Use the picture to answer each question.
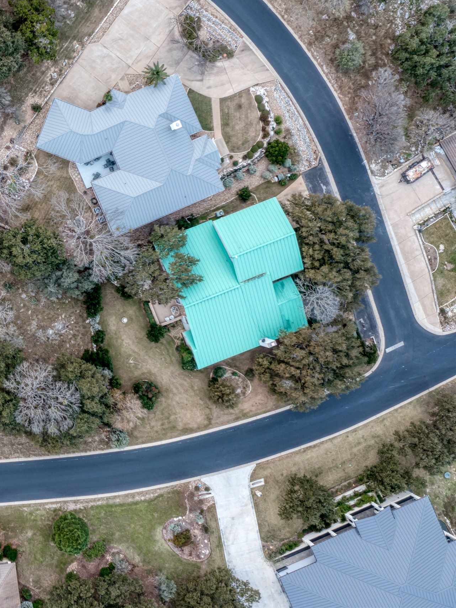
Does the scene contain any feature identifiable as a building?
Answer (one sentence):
Yes, the image includes a building.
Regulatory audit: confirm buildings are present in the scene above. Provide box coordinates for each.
[430,131,456,192]
[0,551,21,608]
[271,495,456,608]
[35,73,225,236]
[153,198,307,370]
